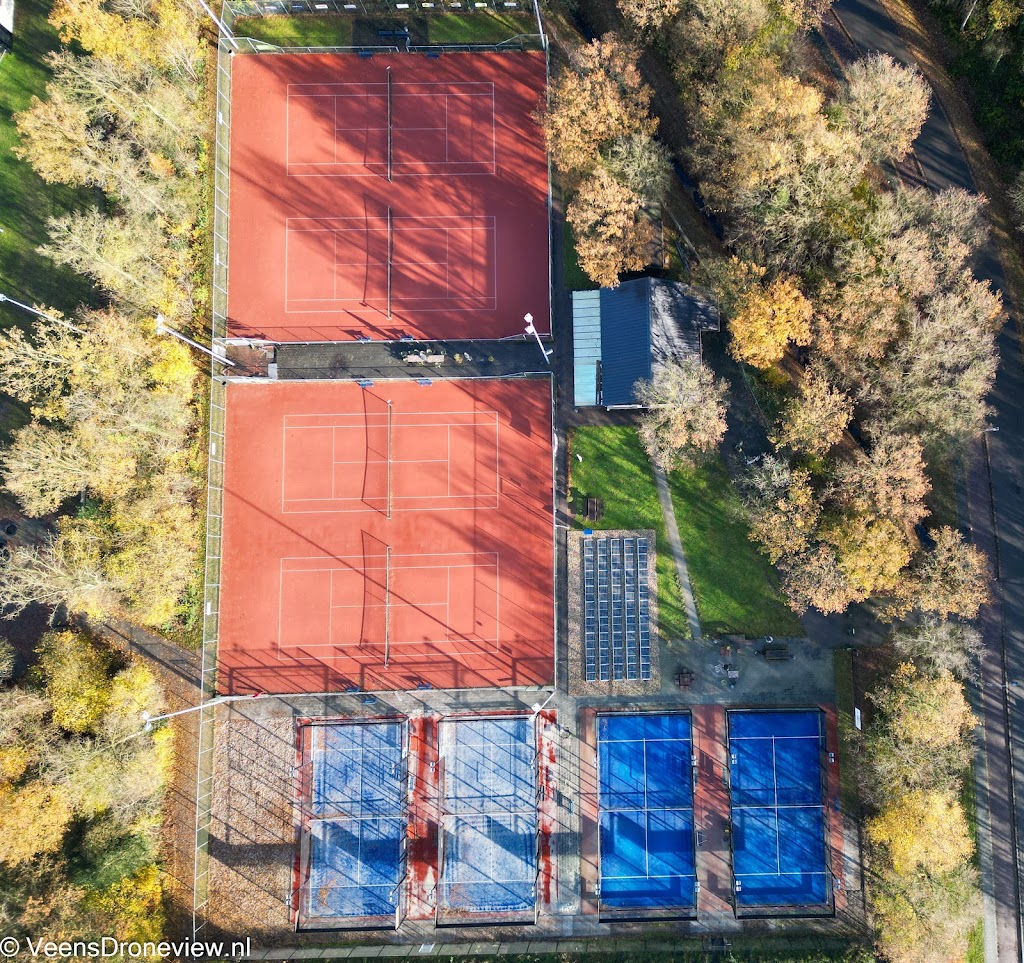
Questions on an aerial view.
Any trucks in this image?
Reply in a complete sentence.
No, the photo shows no truck.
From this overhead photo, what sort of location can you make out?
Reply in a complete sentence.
This looks like a sports ground.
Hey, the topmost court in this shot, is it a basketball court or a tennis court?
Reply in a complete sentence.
It looks like the topmost court is a tennis court.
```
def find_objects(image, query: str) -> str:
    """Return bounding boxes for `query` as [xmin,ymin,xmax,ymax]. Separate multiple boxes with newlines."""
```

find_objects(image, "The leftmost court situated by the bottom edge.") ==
[285,719,410,933]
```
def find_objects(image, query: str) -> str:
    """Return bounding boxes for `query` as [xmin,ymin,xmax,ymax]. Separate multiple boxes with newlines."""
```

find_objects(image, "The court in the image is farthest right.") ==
[727,708,842,919]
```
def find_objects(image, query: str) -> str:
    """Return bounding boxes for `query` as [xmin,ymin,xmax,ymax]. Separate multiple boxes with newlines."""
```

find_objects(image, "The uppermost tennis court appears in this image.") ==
[230,51,549,194]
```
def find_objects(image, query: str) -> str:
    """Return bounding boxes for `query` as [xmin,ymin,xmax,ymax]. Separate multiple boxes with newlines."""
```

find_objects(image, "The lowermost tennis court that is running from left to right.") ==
[217,529,555,695]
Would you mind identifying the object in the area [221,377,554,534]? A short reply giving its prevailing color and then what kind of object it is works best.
red tennis court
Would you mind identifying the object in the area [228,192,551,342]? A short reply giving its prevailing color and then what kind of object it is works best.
red tennis court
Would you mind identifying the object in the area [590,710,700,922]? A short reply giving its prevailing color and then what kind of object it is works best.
blue sports court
